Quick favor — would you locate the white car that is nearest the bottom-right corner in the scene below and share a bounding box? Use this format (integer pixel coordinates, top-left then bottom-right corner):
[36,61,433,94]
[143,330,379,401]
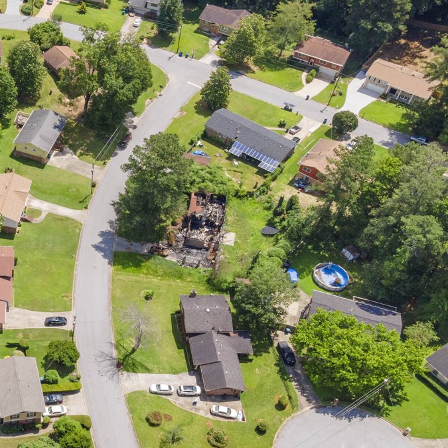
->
[211,404,241,421]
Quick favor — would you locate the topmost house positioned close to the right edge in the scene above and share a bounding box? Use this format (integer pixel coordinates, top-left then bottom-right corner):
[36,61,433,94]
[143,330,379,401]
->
[361,59,441,106]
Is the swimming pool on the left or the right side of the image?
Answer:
right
